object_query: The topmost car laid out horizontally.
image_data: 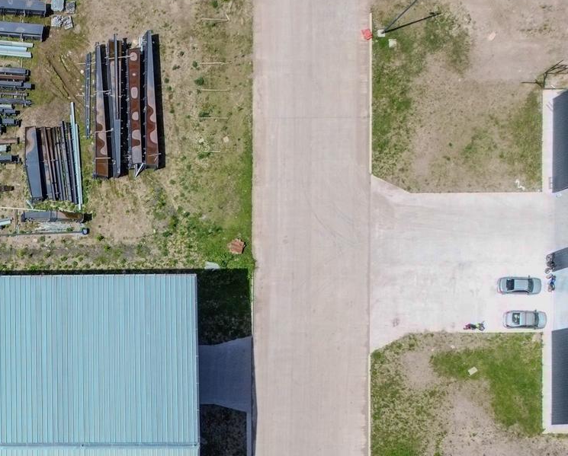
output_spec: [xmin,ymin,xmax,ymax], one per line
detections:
[495,274,541,295]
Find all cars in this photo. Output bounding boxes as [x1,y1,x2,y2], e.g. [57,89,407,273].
[495,274,541,295]
[500,308,545,330]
